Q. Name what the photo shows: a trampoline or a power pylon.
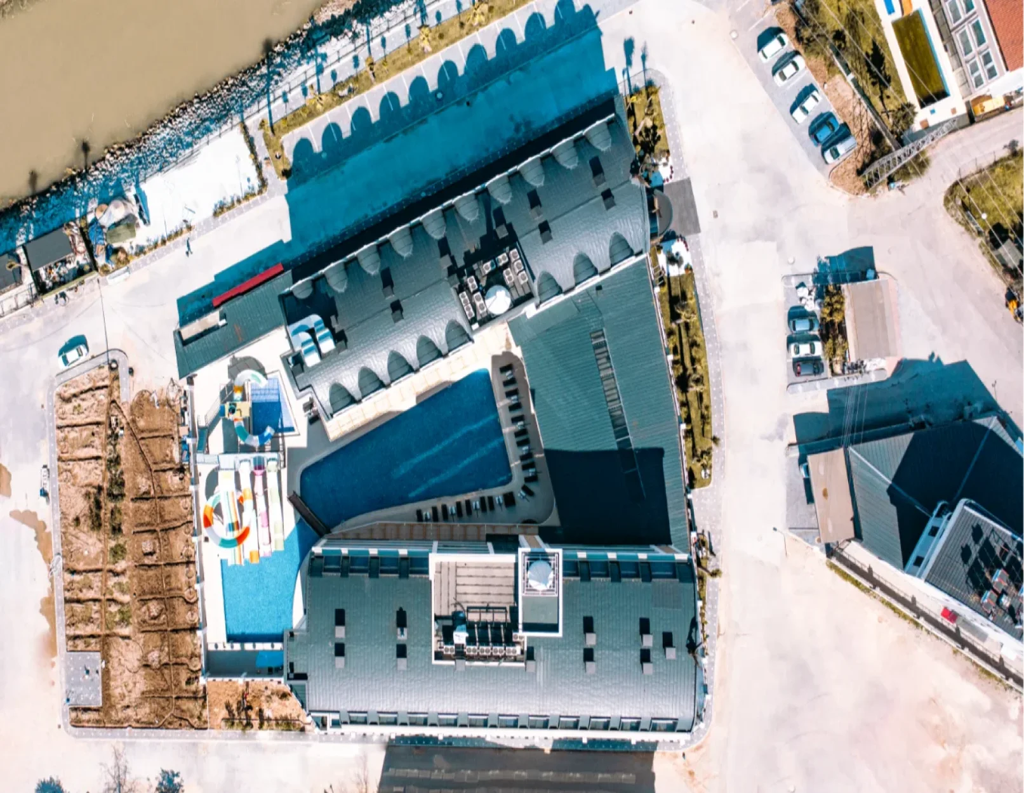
power pylon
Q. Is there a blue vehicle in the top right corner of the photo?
Yes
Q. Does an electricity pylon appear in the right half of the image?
Yes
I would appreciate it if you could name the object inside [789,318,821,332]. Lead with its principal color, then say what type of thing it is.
blue car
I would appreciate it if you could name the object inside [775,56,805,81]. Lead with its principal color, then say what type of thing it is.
white car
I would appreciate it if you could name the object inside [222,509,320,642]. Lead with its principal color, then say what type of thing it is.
blue swimming pool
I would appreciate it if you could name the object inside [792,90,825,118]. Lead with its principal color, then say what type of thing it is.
white car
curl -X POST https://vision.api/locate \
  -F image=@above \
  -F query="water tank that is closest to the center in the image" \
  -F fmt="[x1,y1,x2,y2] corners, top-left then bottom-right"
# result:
[485,287,513,317]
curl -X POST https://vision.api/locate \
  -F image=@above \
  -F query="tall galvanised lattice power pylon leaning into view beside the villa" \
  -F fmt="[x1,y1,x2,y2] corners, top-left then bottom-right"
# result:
[862,118,968,191]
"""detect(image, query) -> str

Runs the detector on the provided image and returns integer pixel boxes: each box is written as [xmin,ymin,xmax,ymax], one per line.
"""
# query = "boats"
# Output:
[131,187,148,224]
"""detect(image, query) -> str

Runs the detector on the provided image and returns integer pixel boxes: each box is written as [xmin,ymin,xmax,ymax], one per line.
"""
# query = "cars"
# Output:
[825,133,860,161]
[794,361,826,375]
[792,90,825,118]
[759,33,791,59]
[801,452,814,484]
[54,342,89,367]
[789,318,821,332]
[790,341,824,356]
[775,56,805,81]
[810,117,841,141]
